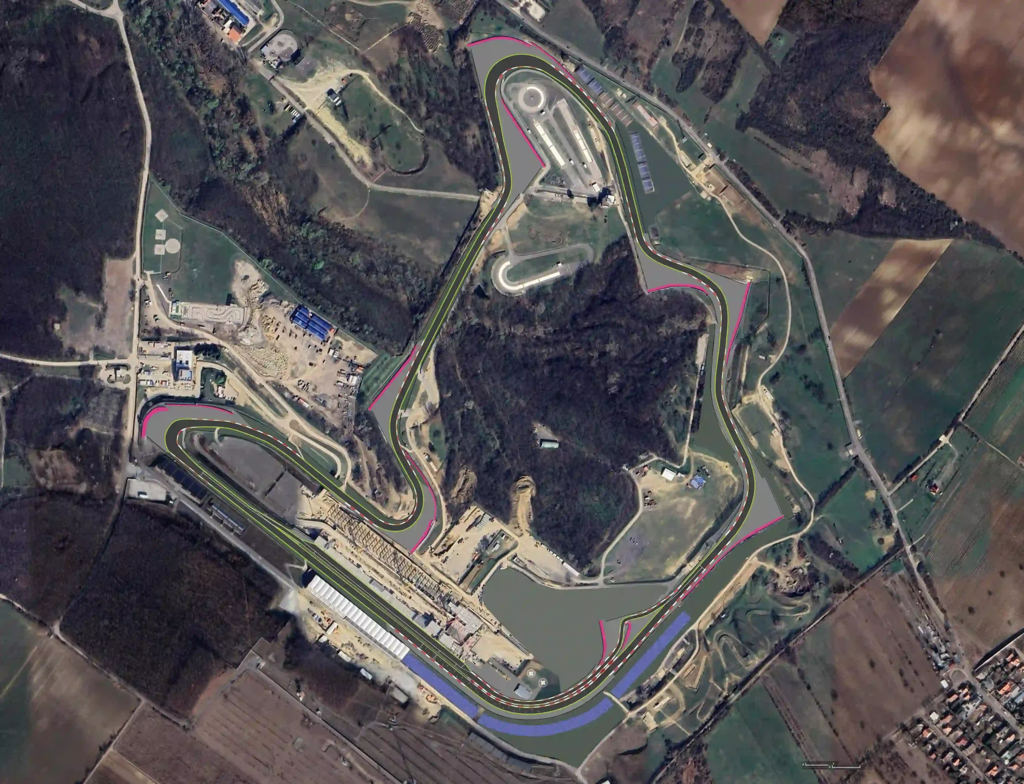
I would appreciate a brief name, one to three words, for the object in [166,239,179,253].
helipad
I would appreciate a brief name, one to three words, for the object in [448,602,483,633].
building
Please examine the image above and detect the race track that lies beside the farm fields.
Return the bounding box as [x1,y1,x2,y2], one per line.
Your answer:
[167,55,755,714]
